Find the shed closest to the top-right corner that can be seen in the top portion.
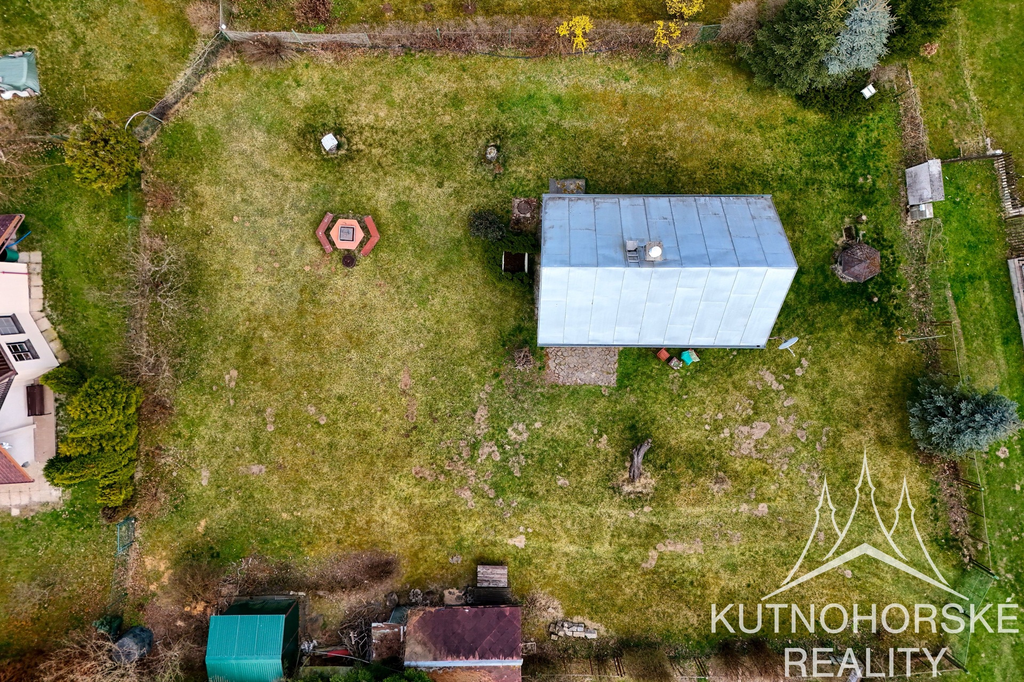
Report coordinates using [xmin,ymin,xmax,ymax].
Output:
[905,159,944,205]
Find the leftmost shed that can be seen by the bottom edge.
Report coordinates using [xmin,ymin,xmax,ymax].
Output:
[205,599,301,682]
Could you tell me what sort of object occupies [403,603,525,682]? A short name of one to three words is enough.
shed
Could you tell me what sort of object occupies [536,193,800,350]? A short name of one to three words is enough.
house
